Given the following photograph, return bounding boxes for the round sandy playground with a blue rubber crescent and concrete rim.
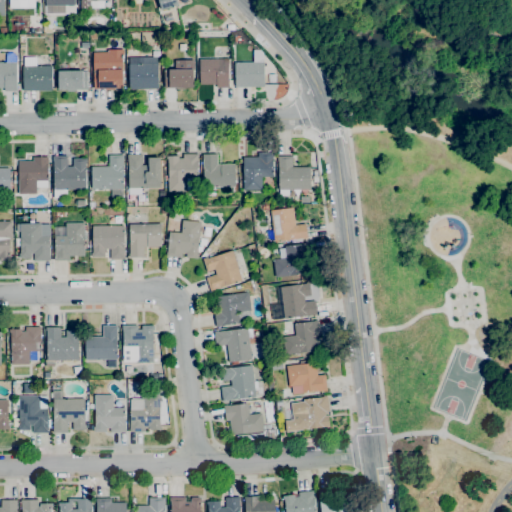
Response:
[424,215,470,260]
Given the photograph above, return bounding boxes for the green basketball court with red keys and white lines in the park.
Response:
[430,346,488,422]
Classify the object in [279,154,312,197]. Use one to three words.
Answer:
house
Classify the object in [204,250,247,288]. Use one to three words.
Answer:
house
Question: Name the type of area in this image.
residential area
